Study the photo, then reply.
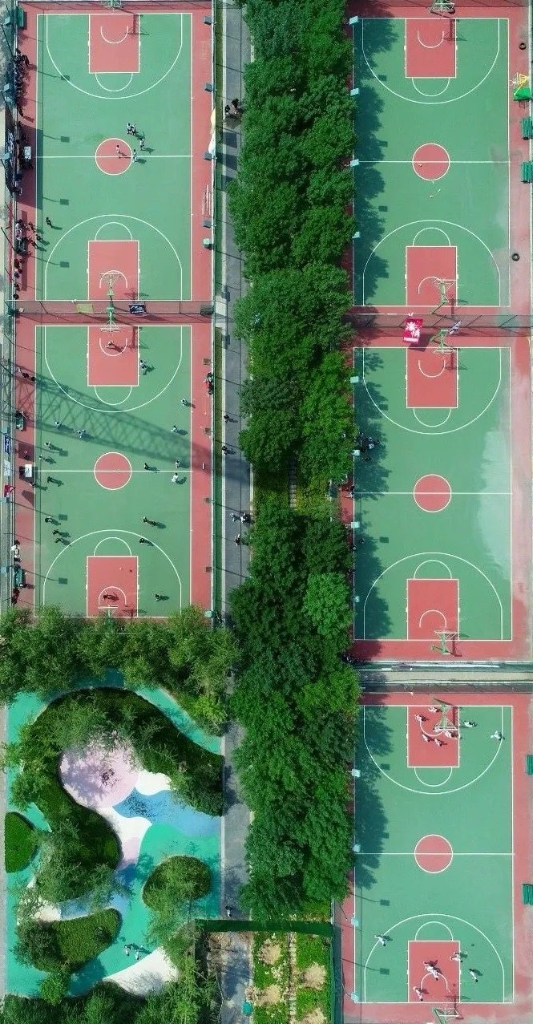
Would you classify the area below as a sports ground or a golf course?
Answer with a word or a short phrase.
sports ground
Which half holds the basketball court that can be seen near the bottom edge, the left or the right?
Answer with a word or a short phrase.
right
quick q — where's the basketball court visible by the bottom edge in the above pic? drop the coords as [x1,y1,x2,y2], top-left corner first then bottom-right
[335,685,533,1024]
